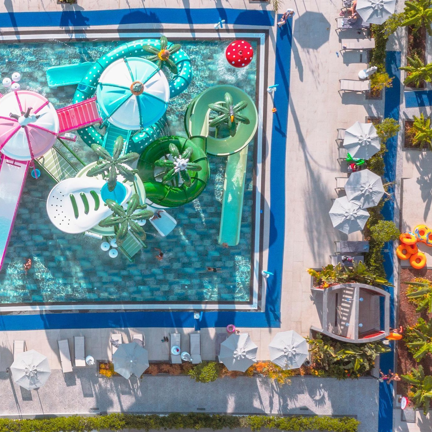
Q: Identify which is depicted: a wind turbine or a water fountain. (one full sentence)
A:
Of the two, only a water fountain appears.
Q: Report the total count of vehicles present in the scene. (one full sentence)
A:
There are no vehicles in this view.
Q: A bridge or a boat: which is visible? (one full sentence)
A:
It is a bridge that can be seen here.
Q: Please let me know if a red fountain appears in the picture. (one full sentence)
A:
Yes, a red fountain is visible in the scene.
